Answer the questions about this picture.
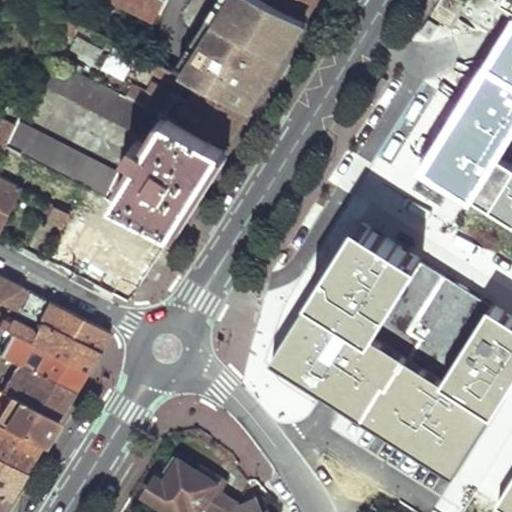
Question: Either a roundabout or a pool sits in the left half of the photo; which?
roundabout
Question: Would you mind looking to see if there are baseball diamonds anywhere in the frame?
No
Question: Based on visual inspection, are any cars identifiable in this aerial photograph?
Yes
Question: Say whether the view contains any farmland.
No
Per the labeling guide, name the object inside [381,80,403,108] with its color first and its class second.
white vehicle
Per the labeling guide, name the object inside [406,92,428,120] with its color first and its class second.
white vehicle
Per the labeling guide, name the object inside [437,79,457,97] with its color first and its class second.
white car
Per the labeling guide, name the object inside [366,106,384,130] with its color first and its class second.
white car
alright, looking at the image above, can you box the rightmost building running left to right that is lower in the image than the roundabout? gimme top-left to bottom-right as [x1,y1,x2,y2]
[132,452,262,512]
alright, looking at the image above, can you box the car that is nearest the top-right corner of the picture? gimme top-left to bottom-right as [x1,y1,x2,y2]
[450,60,471,75]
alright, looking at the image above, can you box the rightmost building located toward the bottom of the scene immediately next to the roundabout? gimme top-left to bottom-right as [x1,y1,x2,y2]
[268,226,512,480]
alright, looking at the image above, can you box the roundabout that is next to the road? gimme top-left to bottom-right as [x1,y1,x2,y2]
[110,291,236,422]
